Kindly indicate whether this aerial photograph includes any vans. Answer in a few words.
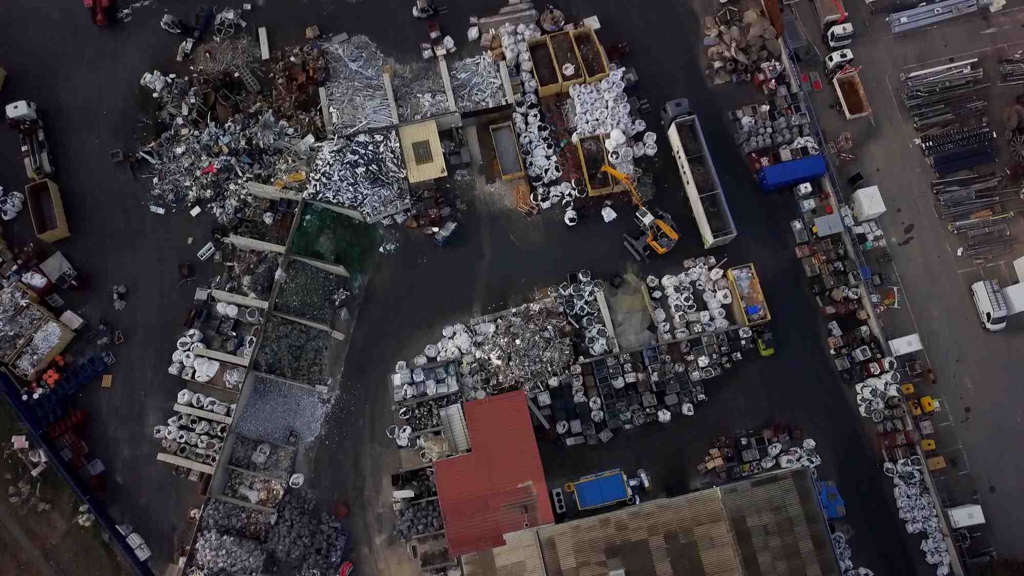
Yes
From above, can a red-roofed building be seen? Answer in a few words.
Yes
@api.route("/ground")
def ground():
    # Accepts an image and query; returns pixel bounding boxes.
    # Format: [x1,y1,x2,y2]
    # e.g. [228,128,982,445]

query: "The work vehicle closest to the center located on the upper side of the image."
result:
[595,165,691,262]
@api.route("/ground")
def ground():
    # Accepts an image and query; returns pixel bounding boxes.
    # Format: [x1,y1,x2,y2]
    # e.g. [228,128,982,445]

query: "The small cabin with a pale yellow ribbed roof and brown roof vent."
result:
[399,119,447,191]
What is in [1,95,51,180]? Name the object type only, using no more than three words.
truck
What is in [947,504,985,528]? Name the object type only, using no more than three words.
trailer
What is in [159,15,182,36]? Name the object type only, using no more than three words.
work vehicle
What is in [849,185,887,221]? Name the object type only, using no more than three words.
building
